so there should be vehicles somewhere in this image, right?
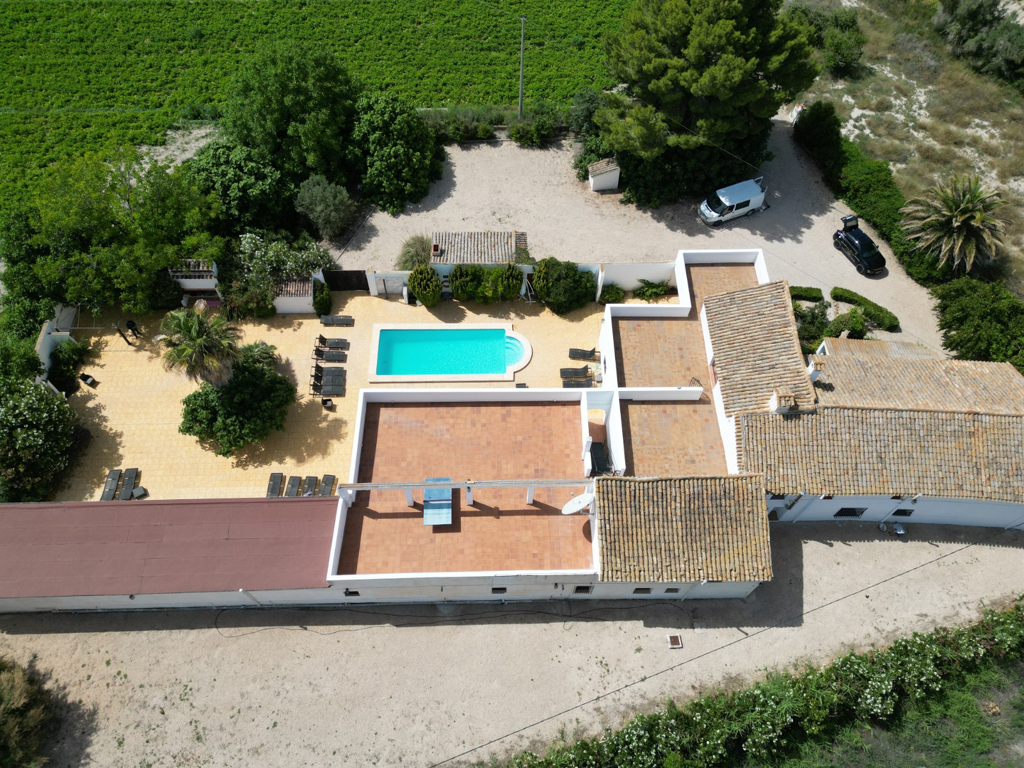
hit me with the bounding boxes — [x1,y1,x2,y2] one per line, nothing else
[834,210,890,278]
[690,176,775,227]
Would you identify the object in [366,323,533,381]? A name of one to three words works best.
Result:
swimming pool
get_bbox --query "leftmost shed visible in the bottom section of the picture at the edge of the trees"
[0,496,340,615]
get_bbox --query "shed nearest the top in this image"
[586,155,623,194]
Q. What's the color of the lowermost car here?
black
